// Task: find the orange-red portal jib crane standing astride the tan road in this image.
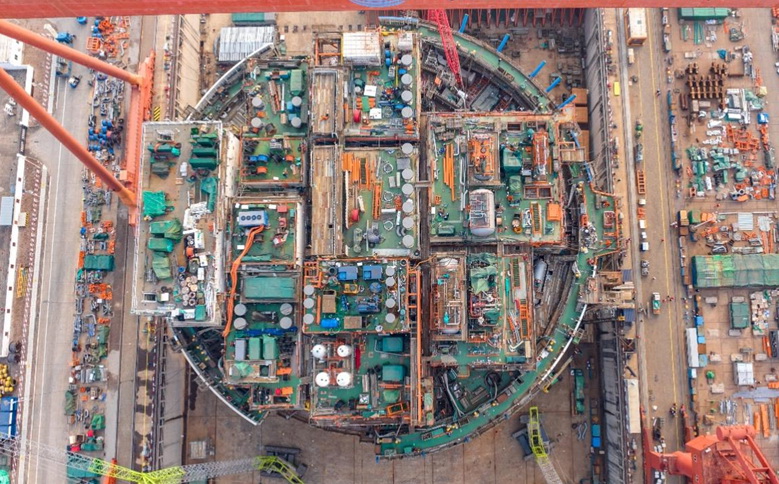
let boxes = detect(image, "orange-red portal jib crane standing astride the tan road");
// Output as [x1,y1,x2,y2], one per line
[641,397,770,484]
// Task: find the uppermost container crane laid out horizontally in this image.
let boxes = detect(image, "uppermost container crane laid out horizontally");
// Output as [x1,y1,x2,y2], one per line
[0,0,779,221]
